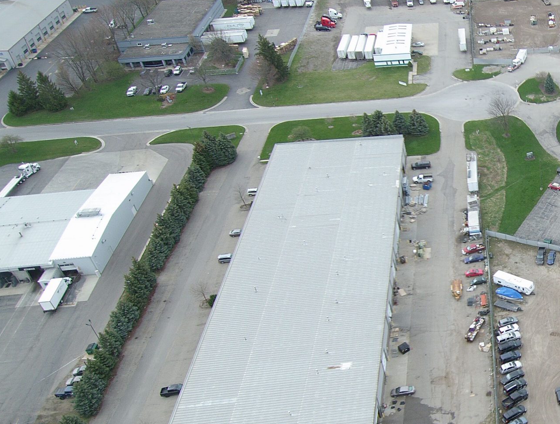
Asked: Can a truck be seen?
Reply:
Yes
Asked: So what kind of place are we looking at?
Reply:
industrial area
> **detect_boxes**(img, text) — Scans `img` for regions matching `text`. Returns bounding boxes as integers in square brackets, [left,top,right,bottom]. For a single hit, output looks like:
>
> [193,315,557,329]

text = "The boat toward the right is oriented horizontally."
[494,287,527,301]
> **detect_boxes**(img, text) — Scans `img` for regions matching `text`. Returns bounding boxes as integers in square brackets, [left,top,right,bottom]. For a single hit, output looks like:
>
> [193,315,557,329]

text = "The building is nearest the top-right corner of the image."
[369,23,415,75]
